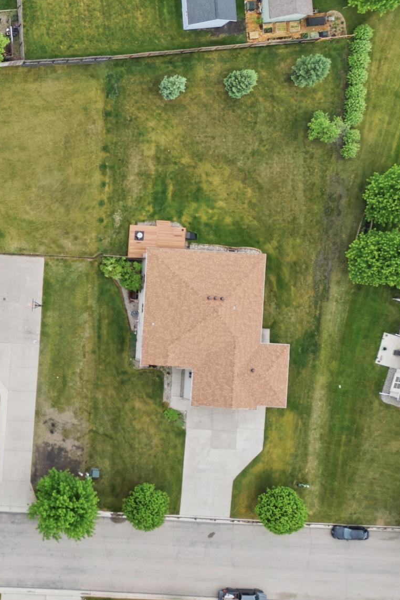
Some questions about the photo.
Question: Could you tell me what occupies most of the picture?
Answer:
grass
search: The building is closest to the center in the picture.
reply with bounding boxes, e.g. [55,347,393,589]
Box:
[135,247,290,410]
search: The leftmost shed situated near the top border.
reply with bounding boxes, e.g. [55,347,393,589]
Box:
[179,0,238,31]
